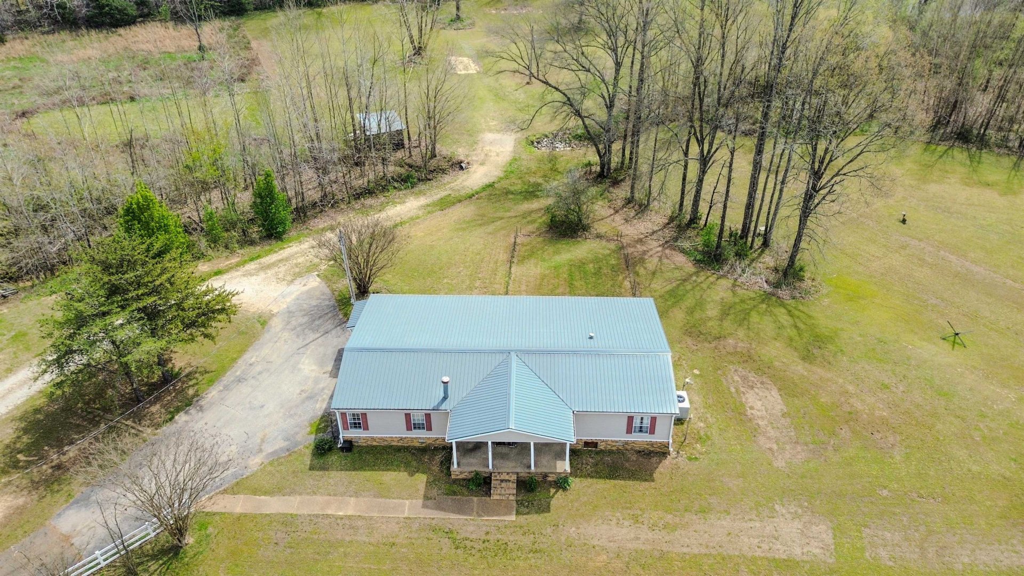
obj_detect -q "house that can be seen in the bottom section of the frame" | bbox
[330,294,680,481]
